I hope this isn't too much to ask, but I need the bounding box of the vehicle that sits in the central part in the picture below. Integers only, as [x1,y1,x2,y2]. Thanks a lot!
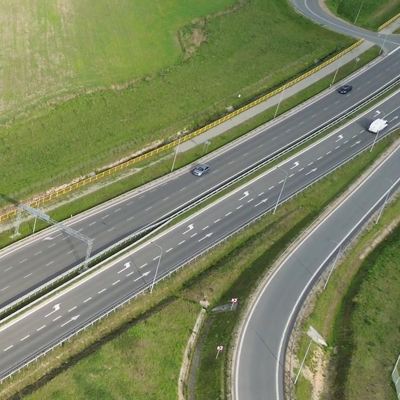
[194,163,212,175]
